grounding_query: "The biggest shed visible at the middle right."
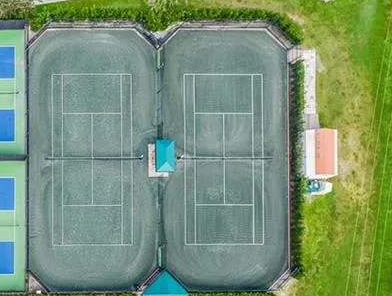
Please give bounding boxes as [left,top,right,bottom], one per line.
[302,129,336,180]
